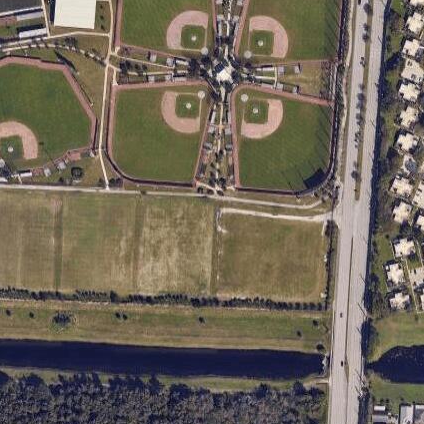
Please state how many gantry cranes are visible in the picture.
0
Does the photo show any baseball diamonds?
Yes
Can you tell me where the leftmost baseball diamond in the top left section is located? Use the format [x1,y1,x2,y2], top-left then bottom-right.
[0,54,101,178]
